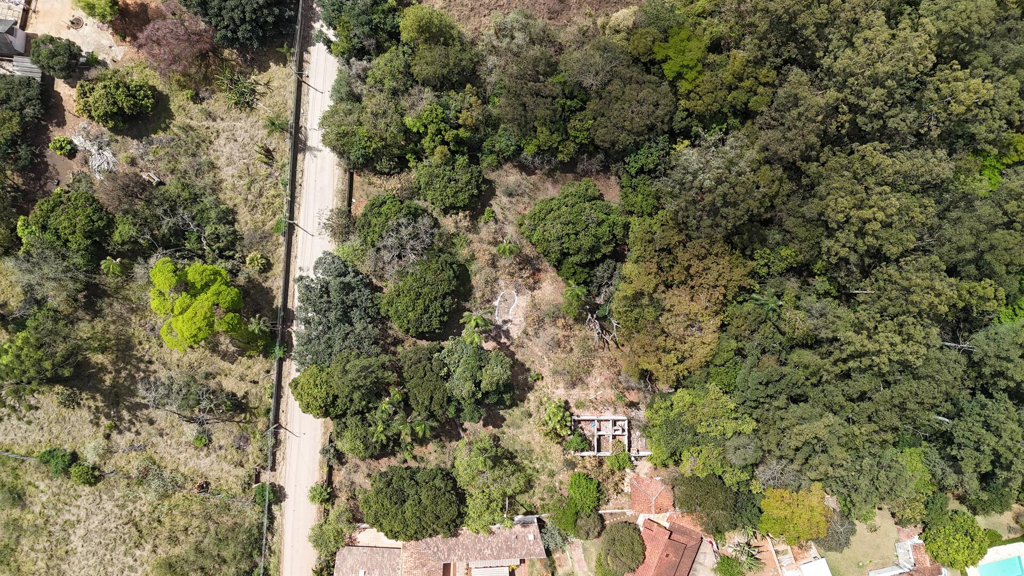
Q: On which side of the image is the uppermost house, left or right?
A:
left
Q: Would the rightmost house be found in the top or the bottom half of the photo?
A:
bottom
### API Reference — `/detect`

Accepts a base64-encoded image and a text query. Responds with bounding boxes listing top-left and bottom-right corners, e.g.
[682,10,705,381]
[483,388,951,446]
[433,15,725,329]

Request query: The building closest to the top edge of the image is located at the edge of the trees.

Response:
[0,20,35,57]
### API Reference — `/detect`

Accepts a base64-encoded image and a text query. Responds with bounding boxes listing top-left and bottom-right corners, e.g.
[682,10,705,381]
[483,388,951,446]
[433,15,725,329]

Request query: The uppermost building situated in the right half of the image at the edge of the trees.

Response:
[630,475,675,515]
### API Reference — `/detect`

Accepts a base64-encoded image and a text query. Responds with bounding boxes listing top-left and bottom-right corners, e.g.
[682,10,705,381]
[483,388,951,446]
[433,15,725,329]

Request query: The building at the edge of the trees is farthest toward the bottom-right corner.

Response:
[865,536,948,576]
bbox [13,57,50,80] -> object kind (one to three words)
shed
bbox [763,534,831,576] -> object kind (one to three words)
house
